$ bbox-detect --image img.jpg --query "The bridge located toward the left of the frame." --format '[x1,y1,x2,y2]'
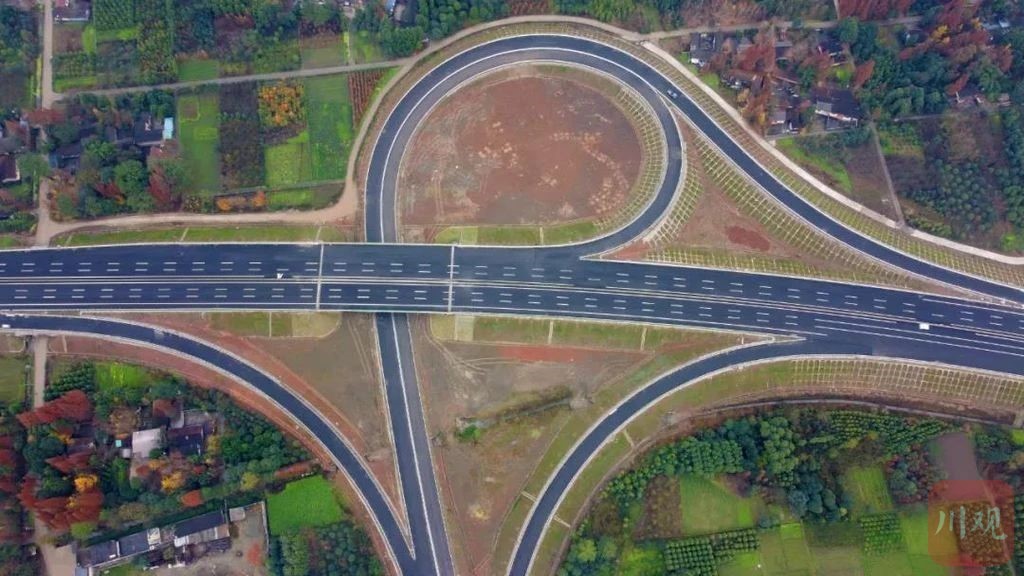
[317,242,454,315]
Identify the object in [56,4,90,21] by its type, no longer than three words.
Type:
house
